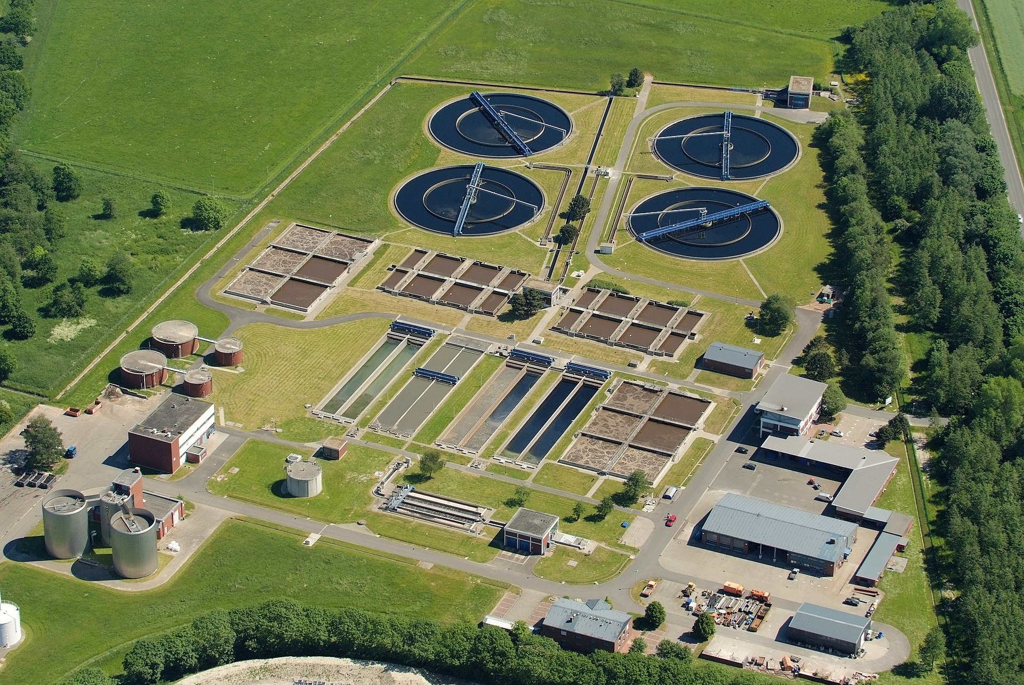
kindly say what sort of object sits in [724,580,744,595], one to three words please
vehicle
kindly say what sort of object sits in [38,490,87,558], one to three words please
silo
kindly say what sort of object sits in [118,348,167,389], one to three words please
storage tank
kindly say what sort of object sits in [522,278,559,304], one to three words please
building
